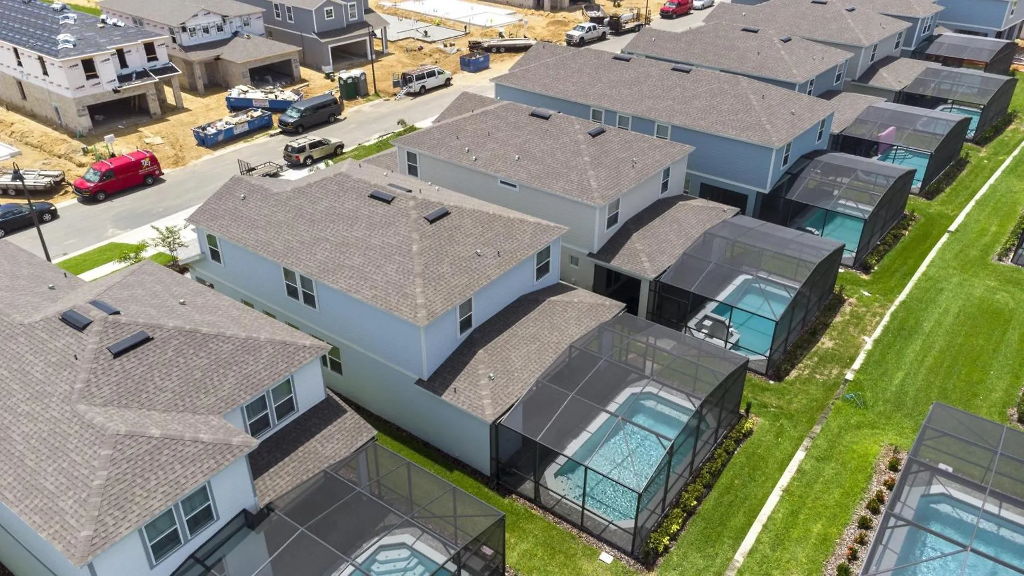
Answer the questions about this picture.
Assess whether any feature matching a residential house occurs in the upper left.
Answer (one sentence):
Yes, a residential house is visible in the upper left.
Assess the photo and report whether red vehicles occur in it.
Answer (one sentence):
Yes, I can see a red vehicle in this picture.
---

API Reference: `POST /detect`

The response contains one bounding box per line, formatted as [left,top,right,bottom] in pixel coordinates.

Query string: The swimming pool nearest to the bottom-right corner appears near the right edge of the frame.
[878,492,1024,576]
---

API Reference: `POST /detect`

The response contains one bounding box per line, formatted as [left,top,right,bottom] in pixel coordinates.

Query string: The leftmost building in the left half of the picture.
[0,0,187,132]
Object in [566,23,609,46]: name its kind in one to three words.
truck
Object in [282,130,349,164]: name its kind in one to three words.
car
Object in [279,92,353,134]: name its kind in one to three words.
van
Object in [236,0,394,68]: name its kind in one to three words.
house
